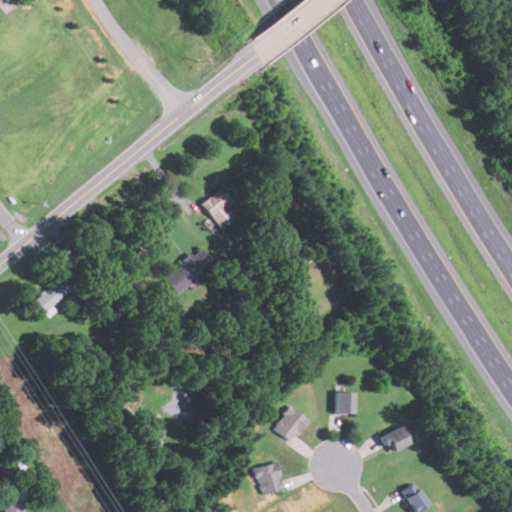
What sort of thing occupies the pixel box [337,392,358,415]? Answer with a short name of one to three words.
house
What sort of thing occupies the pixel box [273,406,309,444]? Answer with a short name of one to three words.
house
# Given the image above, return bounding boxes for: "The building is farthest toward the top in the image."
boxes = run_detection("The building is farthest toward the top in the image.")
[200,192,232,226]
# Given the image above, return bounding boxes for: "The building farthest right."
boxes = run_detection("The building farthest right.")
[402,480,436,512]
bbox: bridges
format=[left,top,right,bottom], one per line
[249,0,356,68]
